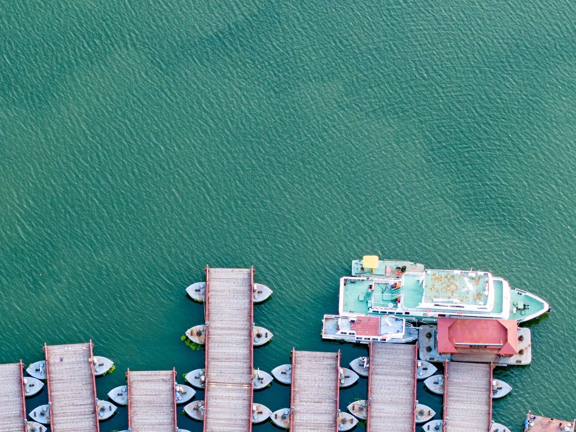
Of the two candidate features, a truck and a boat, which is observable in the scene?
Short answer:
boat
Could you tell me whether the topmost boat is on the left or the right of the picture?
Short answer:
right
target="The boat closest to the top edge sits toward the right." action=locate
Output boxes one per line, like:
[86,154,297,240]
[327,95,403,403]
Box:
[351,256,424,279]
